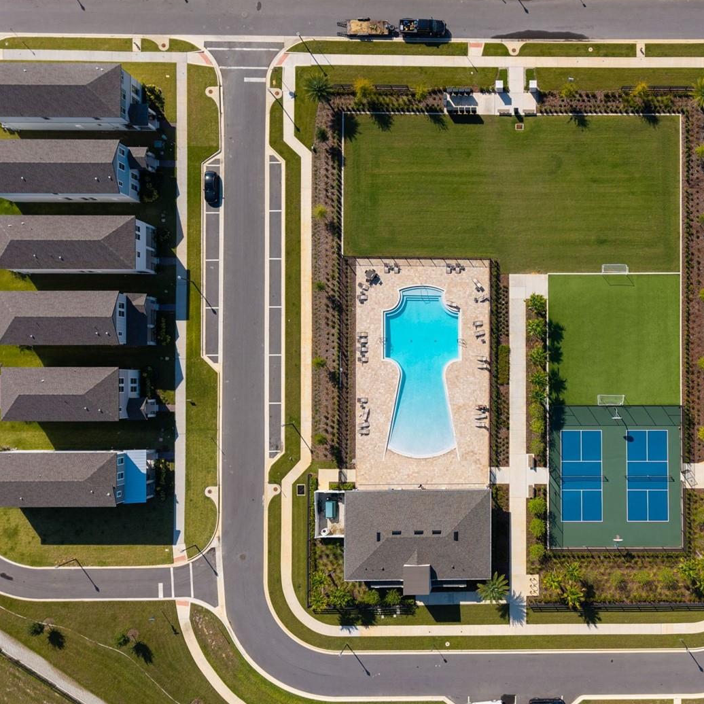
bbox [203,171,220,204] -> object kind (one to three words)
car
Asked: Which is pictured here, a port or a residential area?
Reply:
residential area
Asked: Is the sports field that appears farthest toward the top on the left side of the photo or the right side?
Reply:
right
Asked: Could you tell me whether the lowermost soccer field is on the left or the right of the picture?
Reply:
right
